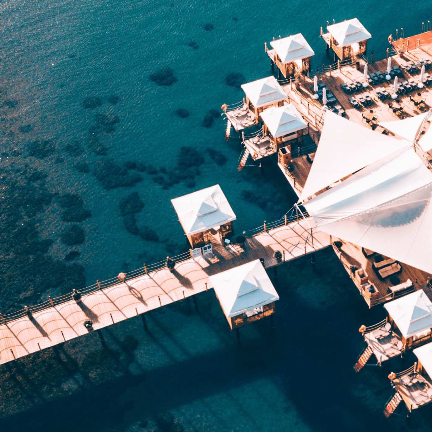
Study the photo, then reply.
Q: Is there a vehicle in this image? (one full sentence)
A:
No, there is no vehicle in the image.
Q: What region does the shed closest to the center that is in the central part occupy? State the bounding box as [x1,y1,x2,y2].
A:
[171,185,238,254]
